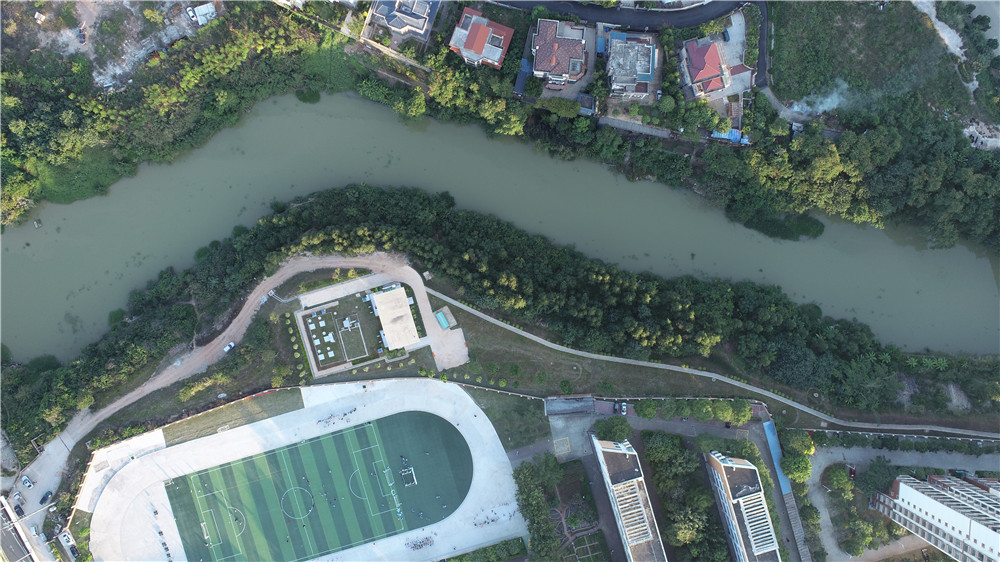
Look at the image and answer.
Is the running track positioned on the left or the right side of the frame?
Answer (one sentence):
The running track sits on the left side.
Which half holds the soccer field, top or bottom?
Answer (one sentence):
You can find the soccer field in the bottom half.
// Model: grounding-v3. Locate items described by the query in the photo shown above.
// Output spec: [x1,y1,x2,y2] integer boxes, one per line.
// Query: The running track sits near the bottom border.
[77,379,528,562]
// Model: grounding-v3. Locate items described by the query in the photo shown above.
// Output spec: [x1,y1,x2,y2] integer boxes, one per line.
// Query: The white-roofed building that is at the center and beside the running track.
[369,285,421,351]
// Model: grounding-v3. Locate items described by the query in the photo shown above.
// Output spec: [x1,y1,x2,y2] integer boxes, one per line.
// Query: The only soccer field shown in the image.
[165,411,473,562]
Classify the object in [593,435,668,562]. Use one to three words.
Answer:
building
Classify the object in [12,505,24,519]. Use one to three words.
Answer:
vehicle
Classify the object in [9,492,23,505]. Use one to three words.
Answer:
vehicle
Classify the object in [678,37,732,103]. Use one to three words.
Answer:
house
